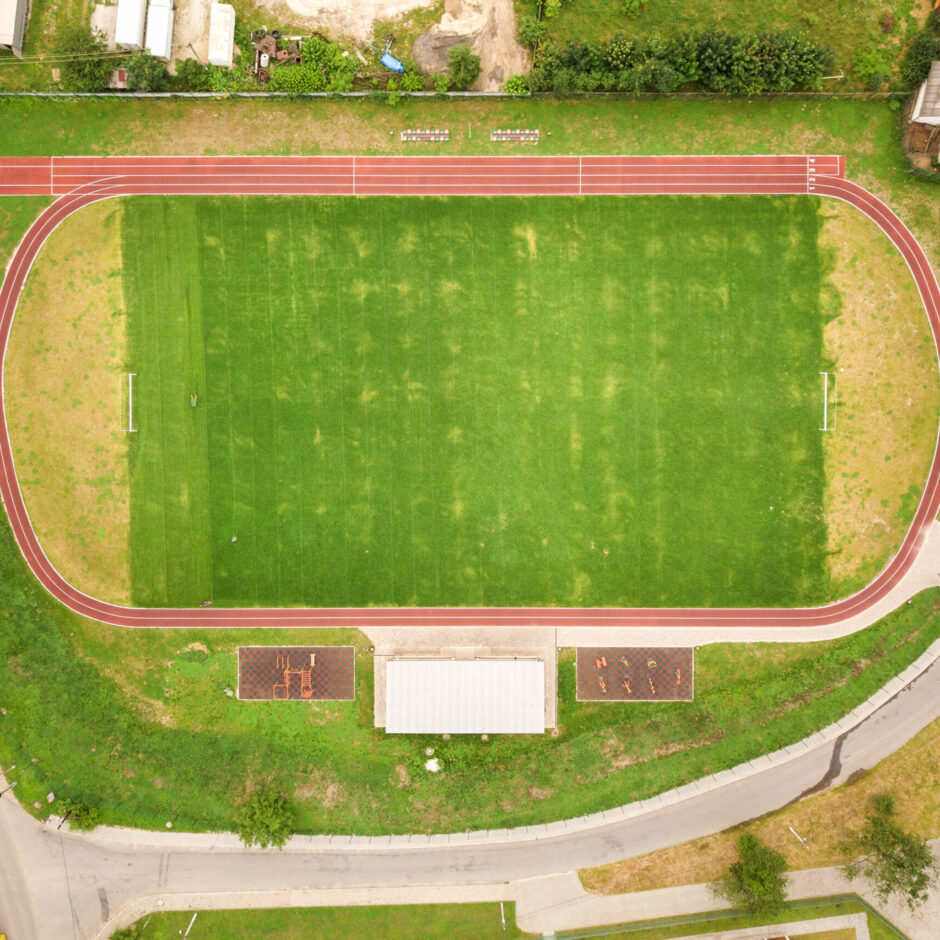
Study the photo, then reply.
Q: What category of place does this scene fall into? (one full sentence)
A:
This image shows a sports ground.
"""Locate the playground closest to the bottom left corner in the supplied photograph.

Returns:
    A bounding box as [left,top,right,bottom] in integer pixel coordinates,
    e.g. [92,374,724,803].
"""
[238,646,354,700]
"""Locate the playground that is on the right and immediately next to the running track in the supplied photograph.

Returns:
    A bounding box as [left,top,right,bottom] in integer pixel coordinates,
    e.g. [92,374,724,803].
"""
[576,647,694,700]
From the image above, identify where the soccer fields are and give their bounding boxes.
[121,195,827,608]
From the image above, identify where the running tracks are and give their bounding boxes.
[0,155,940,628]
